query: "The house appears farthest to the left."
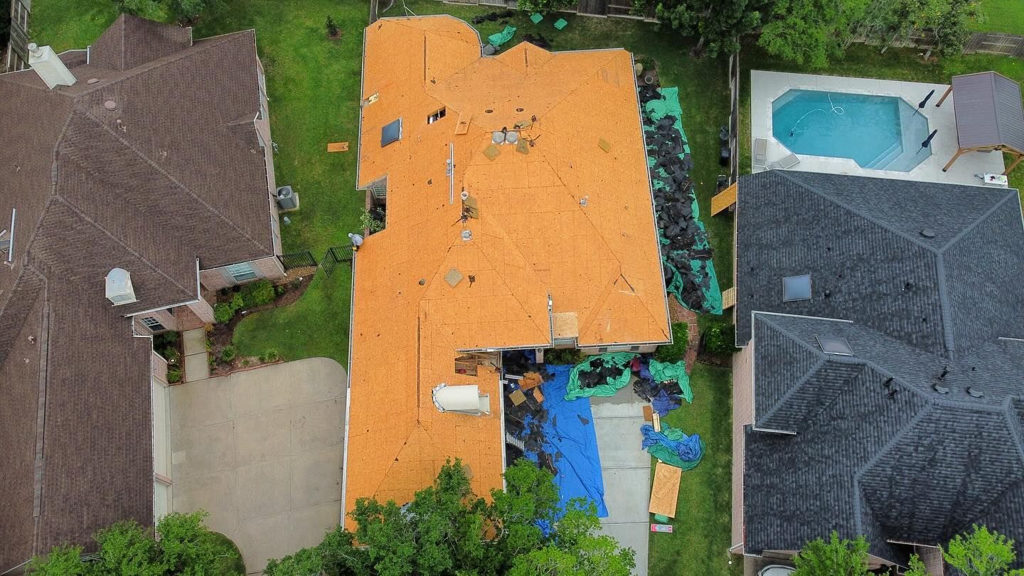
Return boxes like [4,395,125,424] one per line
[0,12,293,576]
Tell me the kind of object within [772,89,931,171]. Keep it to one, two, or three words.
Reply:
swimming pool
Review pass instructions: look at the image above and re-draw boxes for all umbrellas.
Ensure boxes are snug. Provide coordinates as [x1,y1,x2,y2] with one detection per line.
[913,85,938,116]
[917,124,942,154]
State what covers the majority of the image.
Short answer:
buildings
